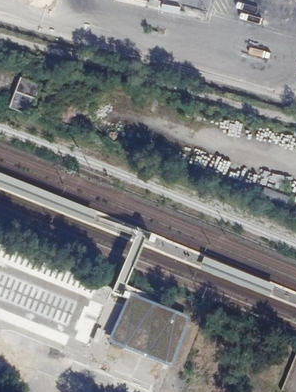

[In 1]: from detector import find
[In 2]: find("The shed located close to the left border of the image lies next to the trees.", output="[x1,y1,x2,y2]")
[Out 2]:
[9,77,38,114]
